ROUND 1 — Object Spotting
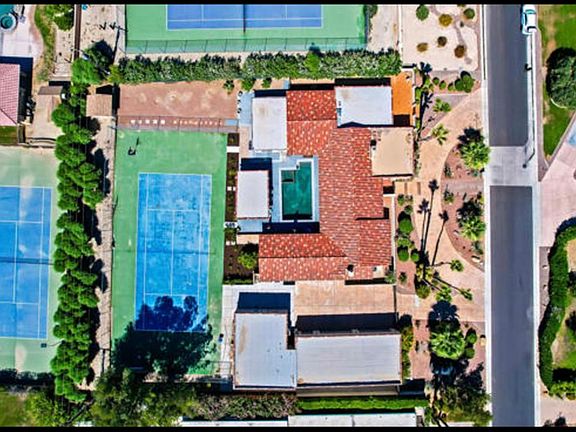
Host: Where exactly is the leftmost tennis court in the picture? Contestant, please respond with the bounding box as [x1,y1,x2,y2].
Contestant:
[0,148,62,376]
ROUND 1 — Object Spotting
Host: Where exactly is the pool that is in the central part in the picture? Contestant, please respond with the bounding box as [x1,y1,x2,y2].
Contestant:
[280,160,314,221]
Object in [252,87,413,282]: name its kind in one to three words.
house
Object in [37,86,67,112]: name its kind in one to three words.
shed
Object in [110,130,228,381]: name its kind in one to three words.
tennis court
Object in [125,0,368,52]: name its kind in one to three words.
tennis court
